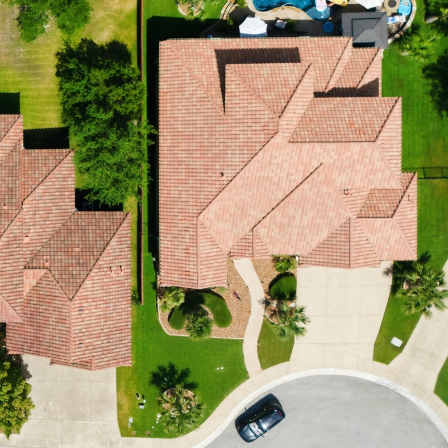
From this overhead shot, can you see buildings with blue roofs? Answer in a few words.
No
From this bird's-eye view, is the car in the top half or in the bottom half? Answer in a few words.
bottom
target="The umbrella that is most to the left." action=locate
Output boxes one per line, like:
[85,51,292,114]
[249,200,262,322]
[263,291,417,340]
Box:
[238,13,267,39]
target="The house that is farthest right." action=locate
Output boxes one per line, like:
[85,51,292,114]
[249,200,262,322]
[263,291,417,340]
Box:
[159,36,419,288]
